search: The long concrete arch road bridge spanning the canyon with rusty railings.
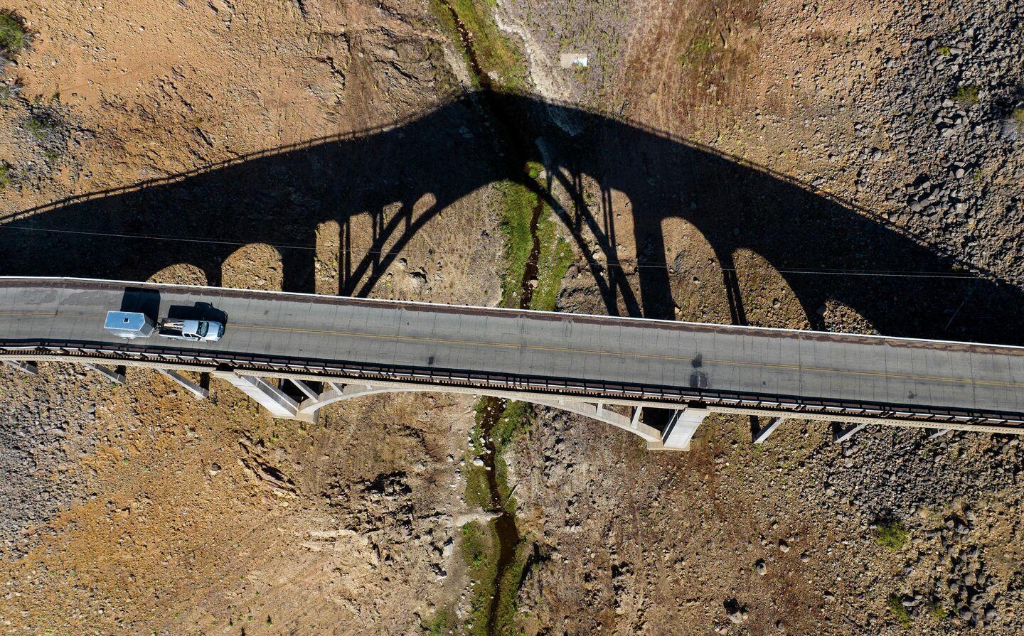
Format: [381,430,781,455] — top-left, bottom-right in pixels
[0,275,1024,451]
